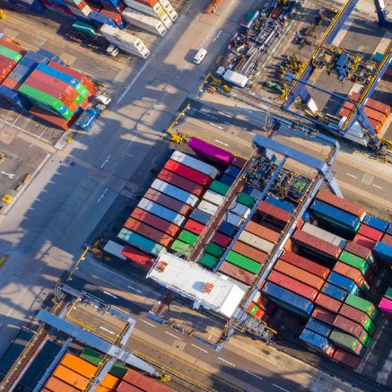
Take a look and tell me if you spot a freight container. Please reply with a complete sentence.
Yes, you can see a freight container in this photo.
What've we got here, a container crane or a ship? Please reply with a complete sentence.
Of the two, only a container crane appears.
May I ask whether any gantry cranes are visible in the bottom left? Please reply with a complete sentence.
Yes, the scene does show a gantry crane in the bottom left.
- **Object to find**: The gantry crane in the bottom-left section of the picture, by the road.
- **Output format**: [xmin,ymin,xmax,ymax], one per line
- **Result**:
[0,280,159,392]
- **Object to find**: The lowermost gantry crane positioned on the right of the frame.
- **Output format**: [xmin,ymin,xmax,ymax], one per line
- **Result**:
[136,112,351,354]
